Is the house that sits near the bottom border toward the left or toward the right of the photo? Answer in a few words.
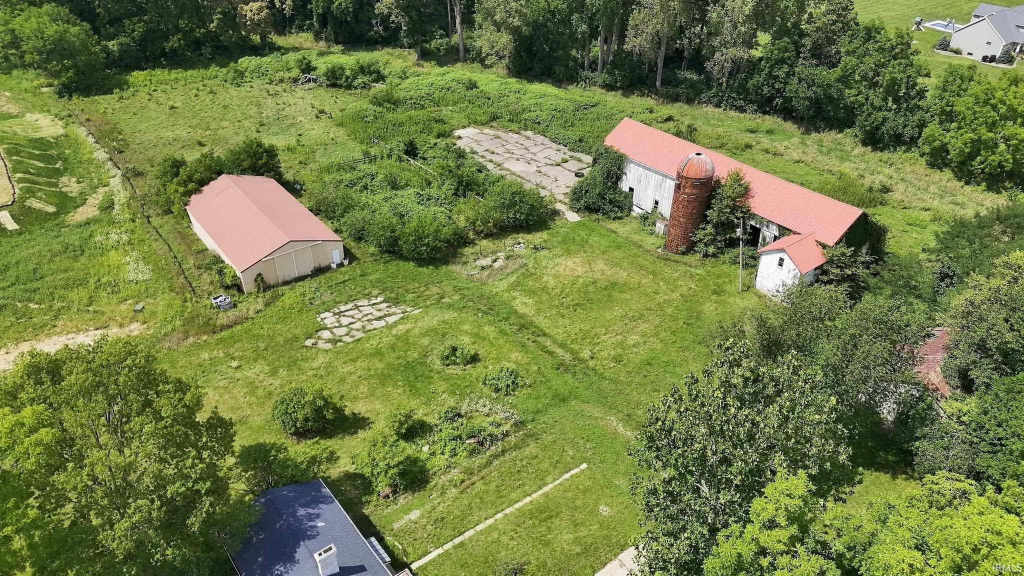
left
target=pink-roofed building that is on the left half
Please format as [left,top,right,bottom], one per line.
[180,174,344,294]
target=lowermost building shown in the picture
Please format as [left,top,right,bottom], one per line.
[230,479,426,576]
